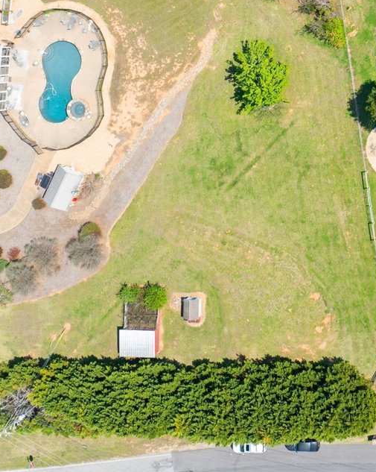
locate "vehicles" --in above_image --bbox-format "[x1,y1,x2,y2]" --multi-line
[234,438,268,457]
[285,437,320,455]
